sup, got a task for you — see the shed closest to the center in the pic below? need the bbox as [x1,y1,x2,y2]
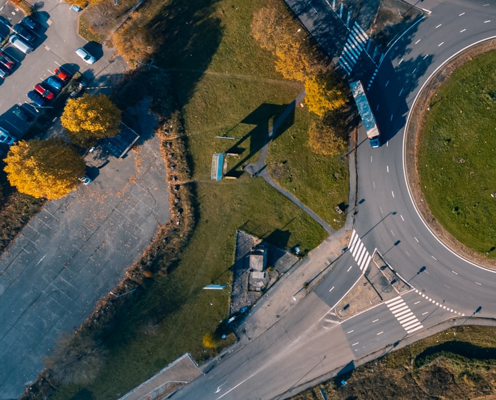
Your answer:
[249,247,267,271]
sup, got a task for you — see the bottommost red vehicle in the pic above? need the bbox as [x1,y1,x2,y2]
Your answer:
[35,83,55,100]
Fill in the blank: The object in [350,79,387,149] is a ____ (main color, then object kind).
blue truck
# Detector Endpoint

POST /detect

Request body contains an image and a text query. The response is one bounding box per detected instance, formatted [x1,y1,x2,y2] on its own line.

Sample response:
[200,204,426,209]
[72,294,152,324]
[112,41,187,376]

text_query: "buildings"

[249,247,267,271]
[107,124,144,157]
